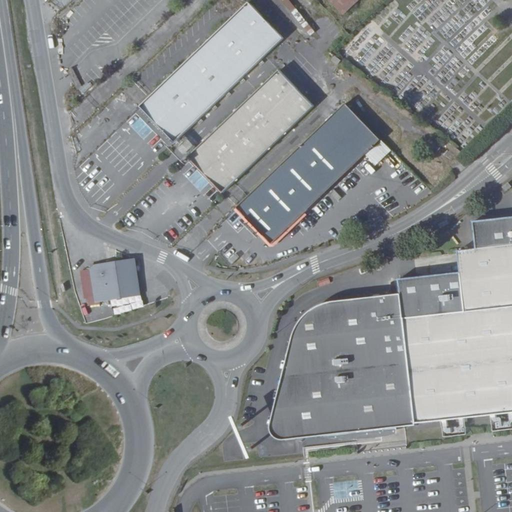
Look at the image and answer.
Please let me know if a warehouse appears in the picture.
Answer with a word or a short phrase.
Yes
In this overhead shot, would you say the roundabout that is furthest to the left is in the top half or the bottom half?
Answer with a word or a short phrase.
bottom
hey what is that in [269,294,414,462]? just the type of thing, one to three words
building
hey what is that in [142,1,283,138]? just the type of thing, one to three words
warehouse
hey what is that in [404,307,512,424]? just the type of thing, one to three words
building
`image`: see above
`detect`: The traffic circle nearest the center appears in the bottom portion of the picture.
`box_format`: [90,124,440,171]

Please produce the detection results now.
[178,281,266,369]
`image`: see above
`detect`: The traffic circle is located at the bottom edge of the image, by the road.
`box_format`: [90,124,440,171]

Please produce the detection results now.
[0,333,154,512]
